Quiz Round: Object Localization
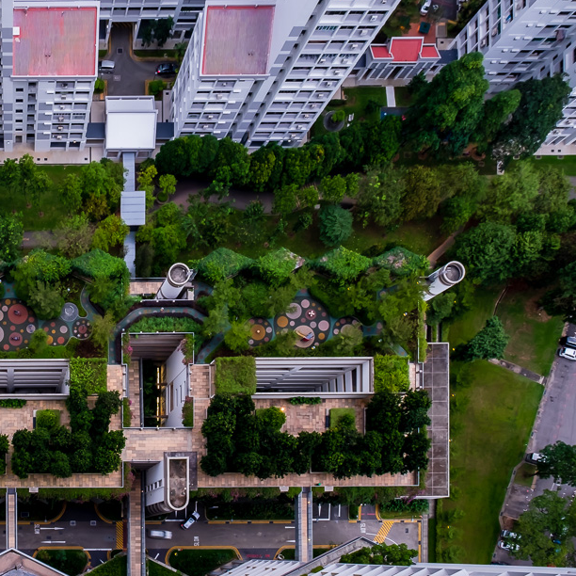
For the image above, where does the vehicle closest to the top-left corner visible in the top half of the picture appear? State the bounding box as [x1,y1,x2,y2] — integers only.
[98,60,116,74]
